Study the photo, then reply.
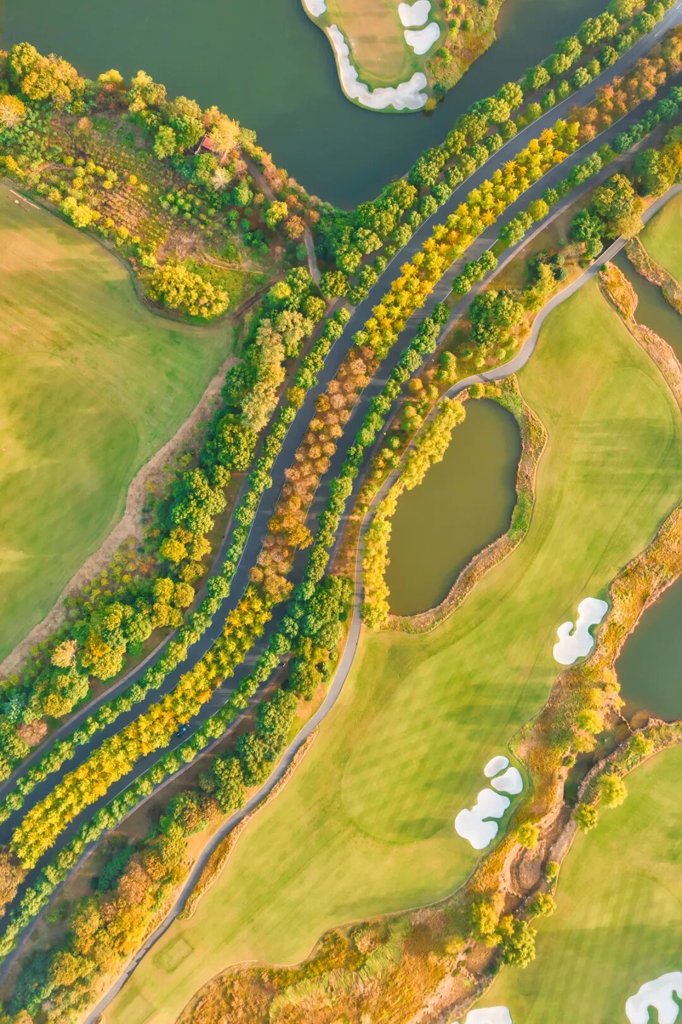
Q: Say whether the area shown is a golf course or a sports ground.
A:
golf course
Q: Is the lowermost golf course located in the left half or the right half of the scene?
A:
right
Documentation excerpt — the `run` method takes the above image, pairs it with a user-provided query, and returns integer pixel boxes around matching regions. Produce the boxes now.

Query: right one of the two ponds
[615,576,682,734]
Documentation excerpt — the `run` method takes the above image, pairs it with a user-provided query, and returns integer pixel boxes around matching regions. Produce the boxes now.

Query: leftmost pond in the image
[382,401,521,615]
